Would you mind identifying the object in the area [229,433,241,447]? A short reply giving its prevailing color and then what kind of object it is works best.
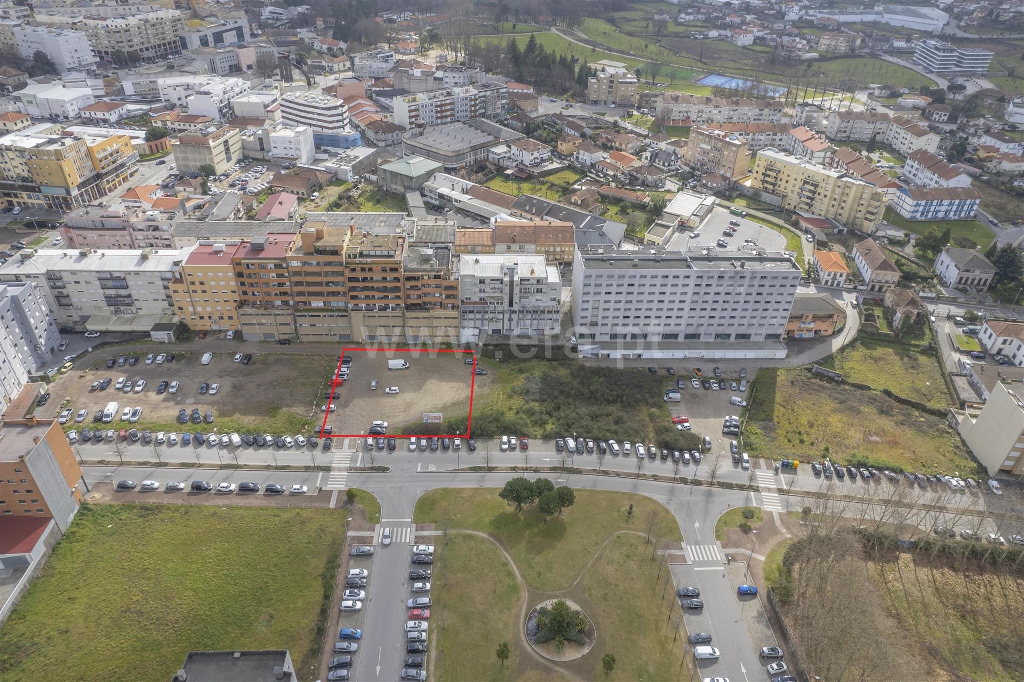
white vehicle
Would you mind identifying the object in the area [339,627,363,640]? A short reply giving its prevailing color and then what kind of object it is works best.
blue vehicle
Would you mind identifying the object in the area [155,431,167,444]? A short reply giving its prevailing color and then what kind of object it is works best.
white vehicle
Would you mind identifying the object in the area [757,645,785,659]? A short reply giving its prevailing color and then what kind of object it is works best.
gray car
